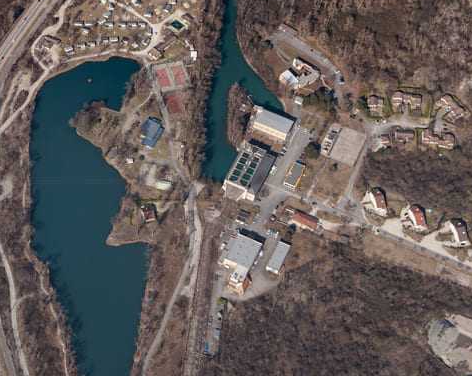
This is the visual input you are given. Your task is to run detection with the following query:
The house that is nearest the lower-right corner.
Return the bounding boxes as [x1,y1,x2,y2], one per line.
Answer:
[449,220,470,248]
